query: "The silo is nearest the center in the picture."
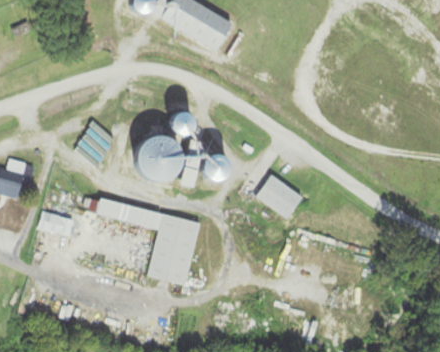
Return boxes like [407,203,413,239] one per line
[200,154,232,184]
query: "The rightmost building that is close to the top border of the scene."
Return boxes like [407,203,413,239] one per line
[164,0,232,50]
